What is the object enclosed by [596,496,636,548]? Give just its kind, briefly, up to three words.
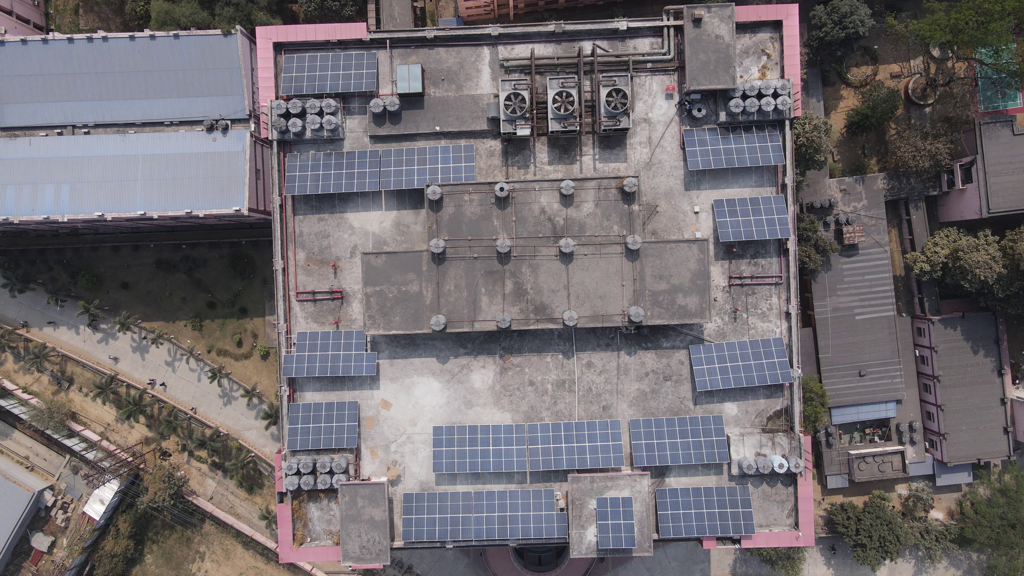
solar array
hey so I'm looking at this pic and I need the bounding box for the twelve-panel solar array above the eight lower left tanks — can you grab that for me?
[287,401,359,450]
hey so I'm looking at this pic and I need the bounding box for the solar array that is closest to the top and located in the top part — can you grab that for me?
[281,52,378,96]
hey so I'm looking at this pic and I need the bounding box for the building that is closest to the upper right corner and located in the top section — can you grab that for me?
[943,114,1024,220]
